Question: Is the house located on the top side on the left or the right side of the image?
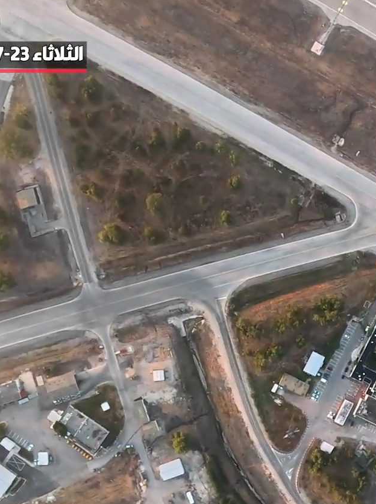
left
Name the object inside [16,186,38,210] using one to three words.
house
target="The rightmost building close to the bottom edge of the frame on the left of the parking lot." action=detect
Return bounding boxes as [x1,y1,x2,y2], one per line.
[157,458,185,481]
